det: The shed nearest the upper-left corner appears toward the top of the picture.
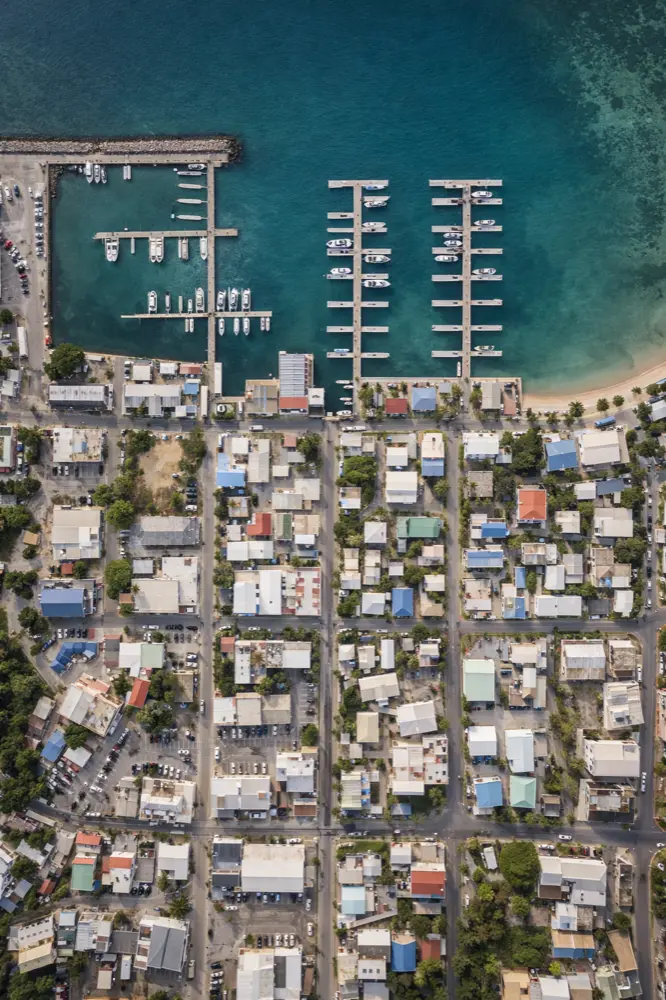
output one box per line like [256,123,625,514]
[17,327,29,357]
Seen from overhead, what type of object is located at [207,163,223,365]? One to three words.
pier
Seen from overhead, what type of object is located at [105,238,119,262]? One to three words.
boat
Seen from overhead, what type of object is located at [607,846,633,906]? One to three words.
house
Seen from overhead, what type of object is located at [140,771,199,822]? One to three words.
building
